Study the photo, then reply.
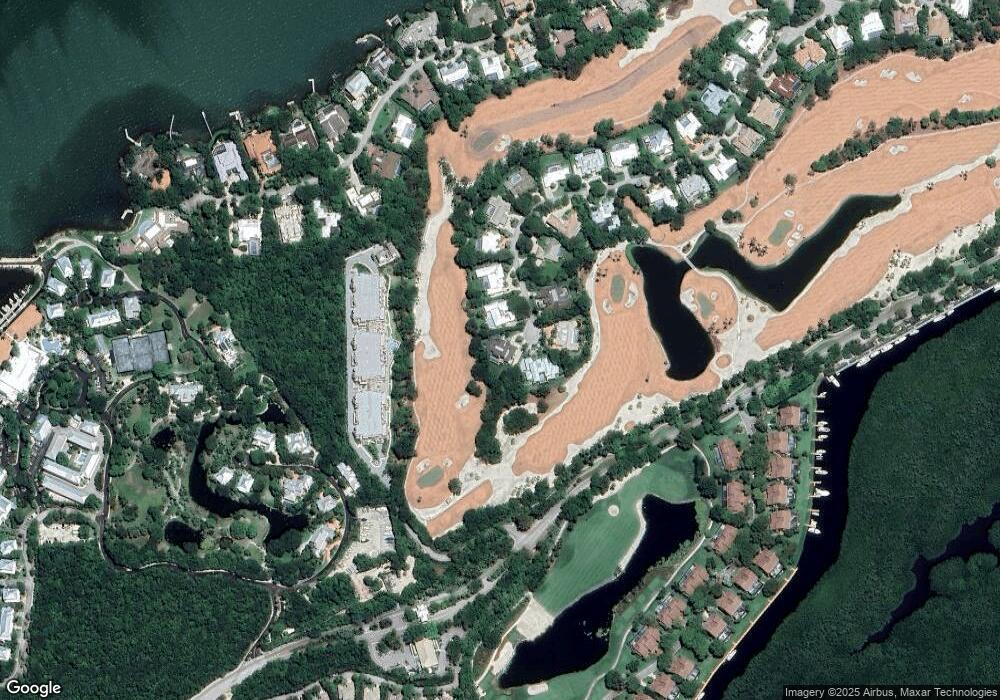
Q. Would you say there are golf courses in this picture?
Yes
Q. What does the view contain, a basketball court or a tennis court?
tennis court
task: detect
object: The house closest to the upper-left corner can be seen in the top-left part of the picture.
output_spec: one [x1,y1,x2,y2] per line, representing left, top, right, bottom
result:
[130,146,167,177]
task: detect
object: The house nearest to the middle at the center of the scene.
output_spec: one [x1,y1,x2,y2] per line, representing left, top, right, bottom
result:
[483,332,522,364]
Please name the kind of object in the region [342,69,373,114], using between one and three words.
house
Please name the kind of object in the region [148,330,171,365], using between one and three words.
tennis court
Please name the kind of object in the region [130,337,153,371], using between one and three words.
tennis court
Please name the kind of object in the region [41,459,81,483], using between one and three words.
building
